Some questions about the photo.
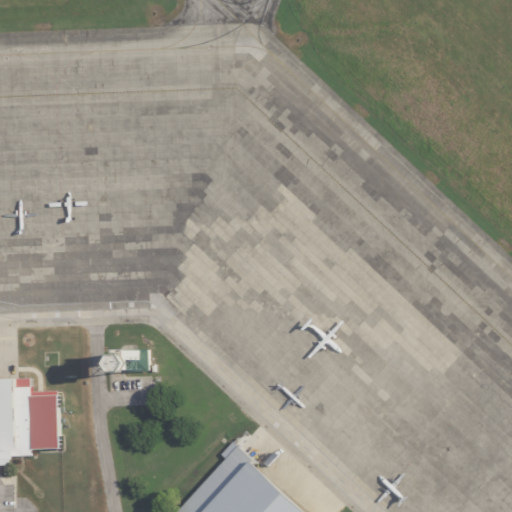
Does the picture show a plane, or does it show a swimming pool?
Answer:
plane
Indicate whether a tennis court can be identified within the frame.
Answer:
No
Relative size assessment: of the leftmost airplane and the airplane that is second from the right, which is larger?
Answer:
the airplane that is second from the right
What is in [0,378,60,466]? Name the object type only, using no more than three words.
building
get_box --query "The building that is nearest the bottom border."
[180,442,307,512]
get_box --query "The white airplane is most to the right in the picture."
[377,474,408,506]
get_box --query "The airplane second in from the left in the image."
[48,193,86,223]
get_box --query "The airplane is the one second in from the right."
[301,318,344,360]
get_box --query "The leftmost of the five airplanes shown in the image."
[2,202,36,236]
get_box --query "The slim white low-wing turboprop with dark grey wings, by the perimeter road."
[276,382,304,411]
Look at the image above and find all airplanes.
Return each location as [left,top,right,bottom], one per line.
[301,318,344,360]
[276,382,304,411]
[2,202,36,236]
[377,474,408,506]
[48,193,86,223]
